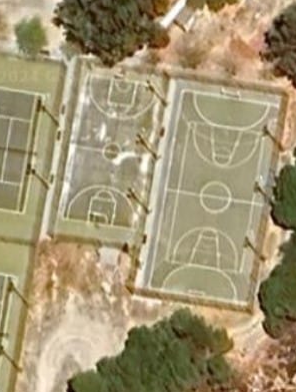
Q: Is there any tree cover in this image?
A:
Yes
